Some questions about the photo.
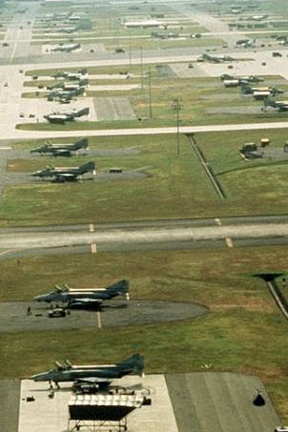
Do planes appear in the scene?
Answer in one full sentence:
Yes, the image includes a plane.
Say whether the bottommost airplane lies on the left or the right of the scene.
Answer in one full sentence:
The bottommost airplane appears in the left half of the scene.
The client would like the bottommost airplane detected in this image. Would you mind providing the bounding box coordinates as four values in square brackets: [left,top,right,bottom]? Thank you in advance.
[29,355,145,390]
